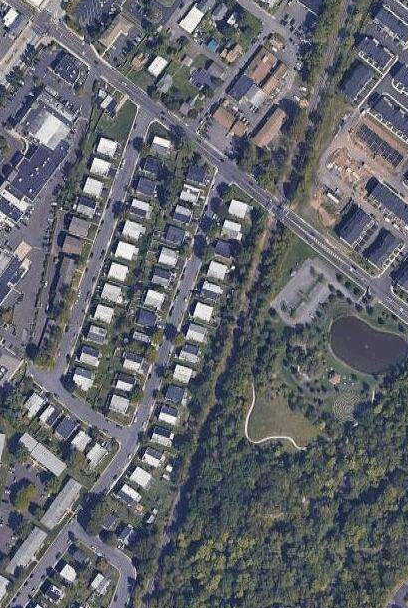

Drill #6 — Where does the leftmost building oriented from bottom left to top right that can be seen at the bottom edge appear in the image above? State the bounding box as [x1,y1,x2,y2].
[6,526,46,578]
